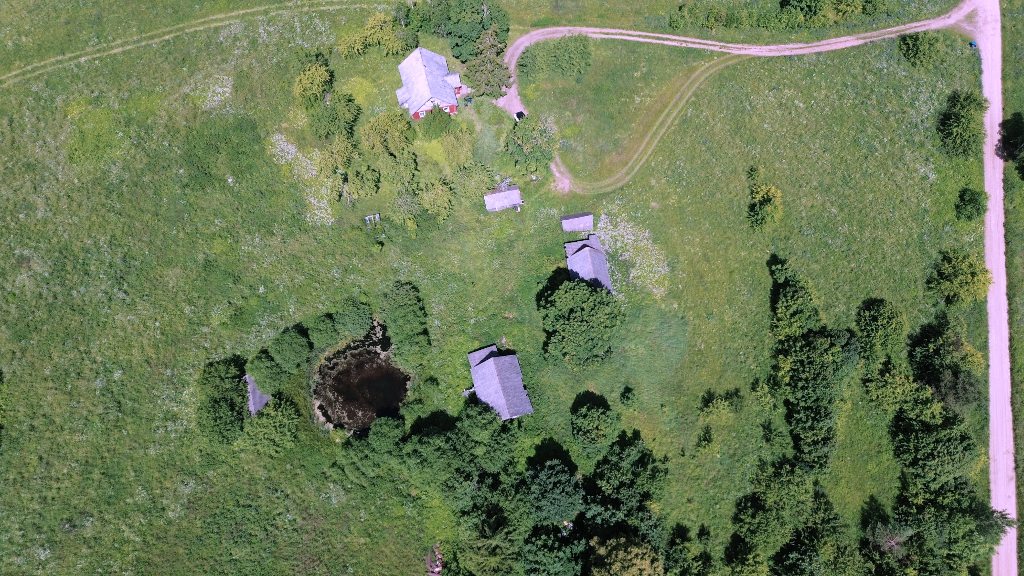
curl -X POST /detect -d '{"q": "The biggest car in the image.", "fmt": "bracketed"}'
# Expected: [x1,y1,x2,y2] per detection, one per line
[515,107,529,122]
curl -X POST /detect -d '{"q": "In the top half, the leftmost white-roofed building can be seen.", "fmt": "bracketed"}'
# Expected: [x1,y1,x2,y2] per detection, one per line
[396,47,462,121]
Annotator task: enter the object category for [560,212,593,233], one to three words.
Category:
shed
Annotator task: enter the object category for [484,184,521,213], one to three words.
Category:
shed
